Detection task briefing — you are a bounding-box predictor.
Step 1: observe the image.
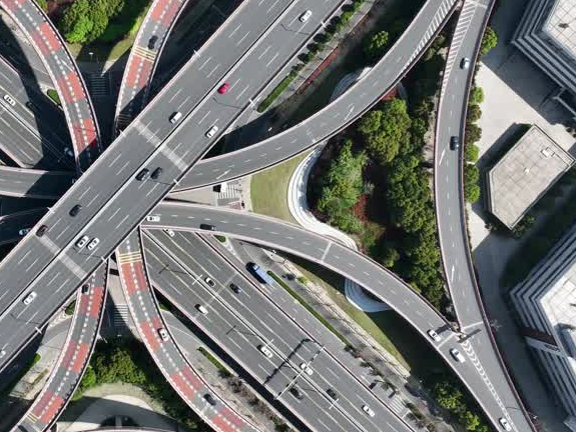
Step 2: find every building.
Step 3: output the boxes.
[507,228,576,432]
[483,125,576,229]
[510,0,576,125]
